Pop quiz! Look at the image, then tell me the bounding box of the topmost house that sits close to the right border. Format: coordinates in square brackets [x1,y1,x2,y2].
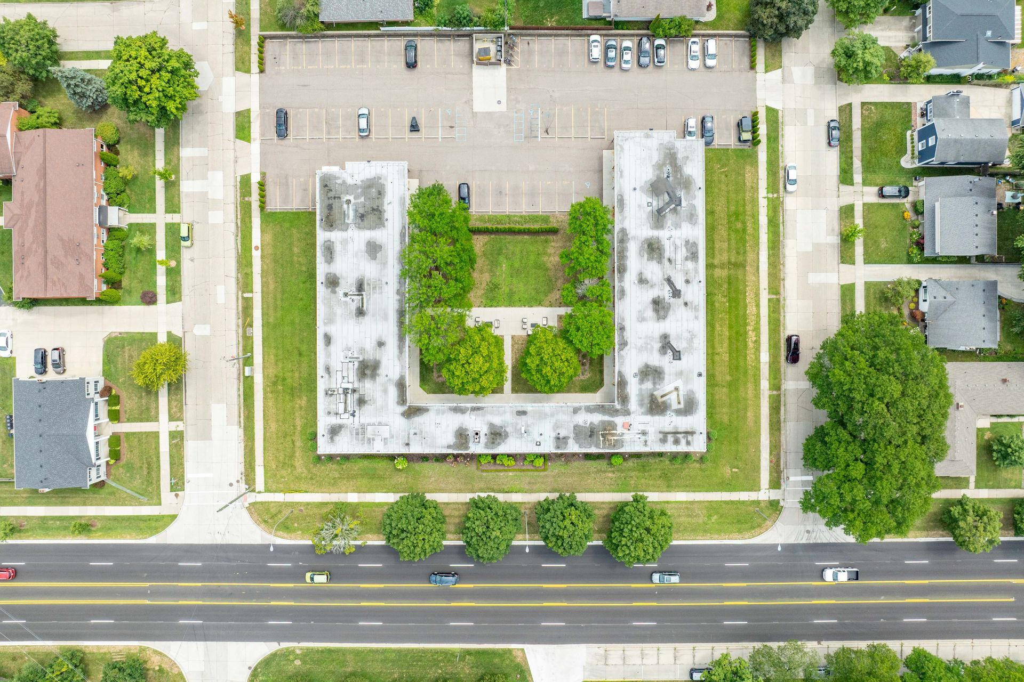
[909,0,1017,75]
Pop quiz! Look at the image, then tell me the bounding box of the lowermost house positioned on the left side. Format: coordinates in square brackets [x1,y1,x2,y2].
[13,376,112,492]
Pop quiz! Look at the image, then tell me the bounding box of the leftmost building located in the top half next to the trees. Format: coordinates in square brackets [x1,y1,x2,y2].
[0,102,137,300]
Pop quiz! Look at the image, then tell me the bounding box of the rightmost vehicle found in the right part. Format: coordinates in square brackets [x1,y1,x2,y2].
[877,184,908,199]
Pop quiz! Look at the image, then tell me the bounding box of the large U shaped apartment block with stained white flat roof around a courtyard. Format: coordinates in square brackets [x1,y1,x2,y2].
[317,127,706,454]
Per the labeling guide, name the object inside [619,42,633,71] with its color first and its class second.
white car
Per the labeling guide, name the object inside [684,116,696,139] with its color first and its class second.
white vehicle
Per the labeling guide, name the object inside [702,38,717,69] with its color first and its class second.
white car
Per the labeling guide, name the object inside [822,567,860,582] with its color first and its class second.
white vehicle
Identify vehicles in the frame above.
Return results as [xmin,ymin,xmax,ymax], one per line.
[619,42,633,71]
[877,184,908,199]
[822,567,860,582]
[458,183,471,210]
[604,40,617,68]
[275,109,289,139]
[785,335,799,364]
[702,38,717,69]
[0,566,19,579]
[782,163,795,193]
[684,116,696,139]
[51,347,67,374]
[430,571,459,586]
[34,348,50,375]
[825,120,840,148]
[357,108,371,138]
[686,39,698,70]
[653,39,667,67]
[737,115,751,143]
[0,330,14,358]
[179,222,194,248]
[637,37,650,68]
[651,570,679,585]
[589,35,602,63]
[306,570,331,584]
[700,115,714,146]
[404,41,418,69]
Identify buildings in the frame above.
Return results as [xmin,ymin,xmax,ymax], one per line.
[0,102,137,300]
[1011,81,1024,127]
[915,175,997,256]
[13,376,112,492]
[611,0,706,25]
[916,87,1008,165]
[930,362,1024,477]
[917,279,998,350]
[317,127,706,454]
[909,0,1017,75]
[318,0,414,26]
